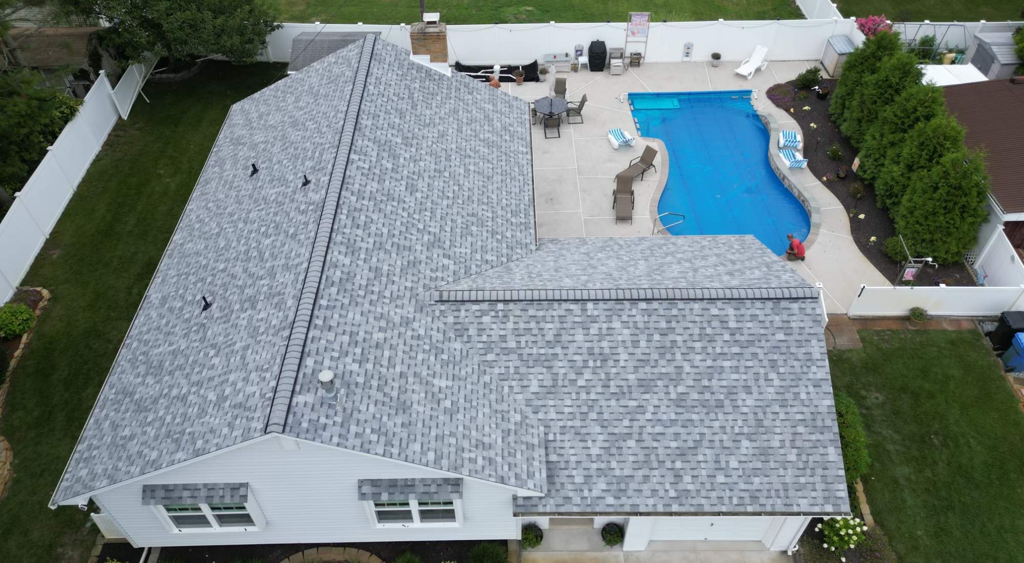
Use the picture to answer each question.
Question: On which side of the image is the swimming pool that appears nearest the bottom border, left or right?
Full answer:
The swimming pool that appears nearest the bottom border sits on the right side.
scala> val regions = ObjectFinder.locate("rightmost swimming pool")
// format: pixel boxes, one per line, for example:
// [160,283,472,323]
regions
[628,92,821,264]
